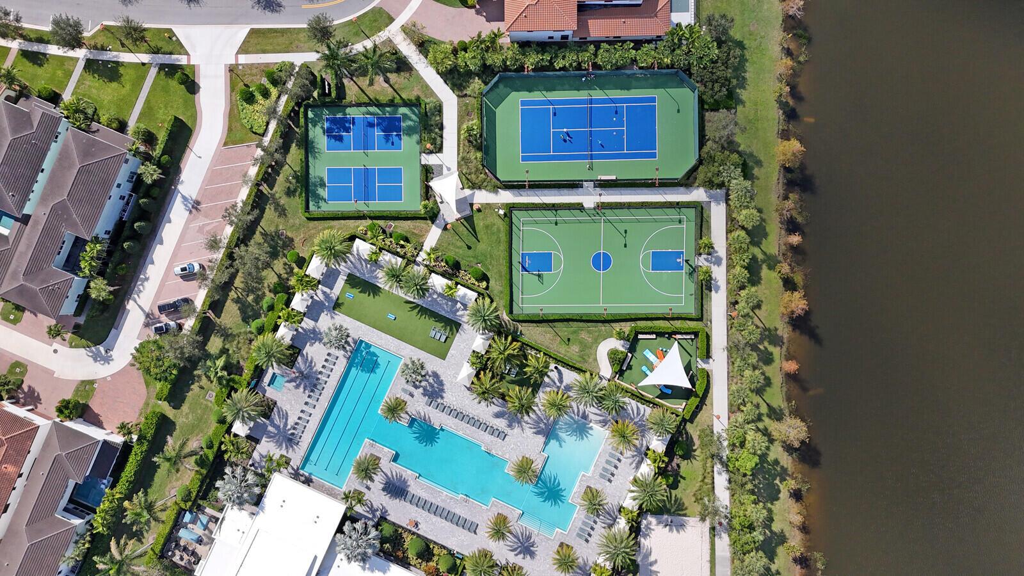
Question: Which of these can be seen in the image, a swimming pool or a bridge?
swimming pool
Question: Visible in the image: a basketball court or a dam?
basketball court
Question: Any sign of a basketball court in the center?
Yes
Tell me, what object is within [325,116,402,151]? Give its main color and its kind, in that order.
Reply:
blue sports court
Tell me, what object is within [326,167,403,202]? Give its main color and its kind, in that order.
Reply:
blue sports court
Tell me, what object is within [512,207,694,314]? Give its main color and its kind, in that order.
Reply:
green basketball court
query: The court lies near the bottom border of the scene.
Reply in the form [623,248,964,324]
[639,513,712,576]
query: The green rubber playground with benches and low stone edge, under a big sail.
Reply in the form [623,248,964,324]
[615,331,698,410]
